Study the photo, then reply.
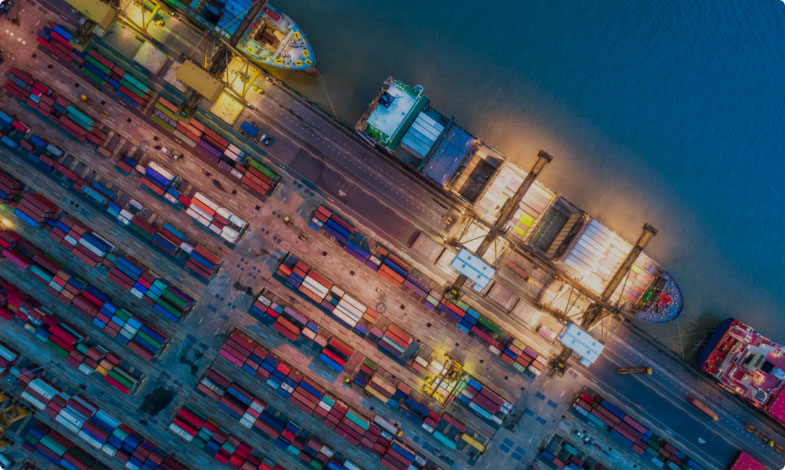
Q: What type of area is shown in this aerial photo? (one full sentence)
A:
It's a port.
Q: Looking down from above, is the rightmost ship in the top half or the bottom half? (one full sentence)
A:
You can find the rightmost ship in the bottom half.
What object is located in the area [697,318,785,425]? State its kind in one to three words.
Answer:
ship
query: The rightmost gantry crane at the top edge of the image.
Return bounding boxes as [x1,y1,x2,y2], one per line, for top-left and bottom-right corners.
[181,0,278,120]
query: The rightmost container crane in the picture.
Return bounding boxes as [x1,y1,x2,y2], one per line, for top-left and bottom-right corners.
[533,219,656,368]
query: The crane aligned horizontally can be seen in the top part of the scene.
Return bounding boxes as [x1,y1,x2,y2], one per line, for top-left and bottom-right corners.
[70,0,182,51]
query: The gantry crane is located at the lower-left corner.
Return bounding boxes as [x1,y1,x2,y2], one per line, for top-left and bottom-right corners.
[0,394,44,452]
